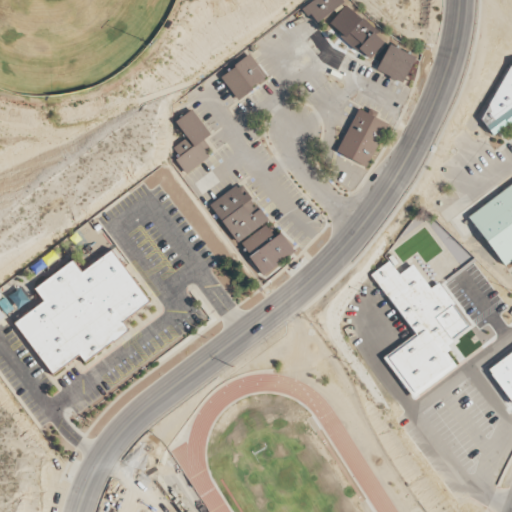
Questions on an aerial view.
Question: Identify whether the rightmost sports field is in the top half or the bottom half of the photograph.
bottom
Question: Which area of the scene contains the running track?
bottom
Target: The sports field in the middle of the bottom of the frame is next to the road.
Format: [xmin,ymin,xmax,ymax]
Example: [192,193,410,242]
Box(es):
[208,394,371,512]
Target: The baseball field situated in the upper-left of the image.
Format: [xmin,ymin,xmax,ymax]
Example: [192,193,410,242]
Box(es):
[0,0,172,95]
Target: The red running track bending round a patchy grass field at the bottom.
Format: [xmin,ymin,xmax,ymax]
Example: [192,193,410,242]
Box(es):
[172,372,394,512]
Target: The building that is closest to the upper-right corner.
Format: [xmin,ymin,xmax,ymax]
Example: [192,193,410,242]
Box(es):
[480,66,512,126]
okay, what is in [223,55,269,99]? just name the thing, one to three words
building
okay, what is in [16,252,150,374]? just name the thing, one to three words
building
